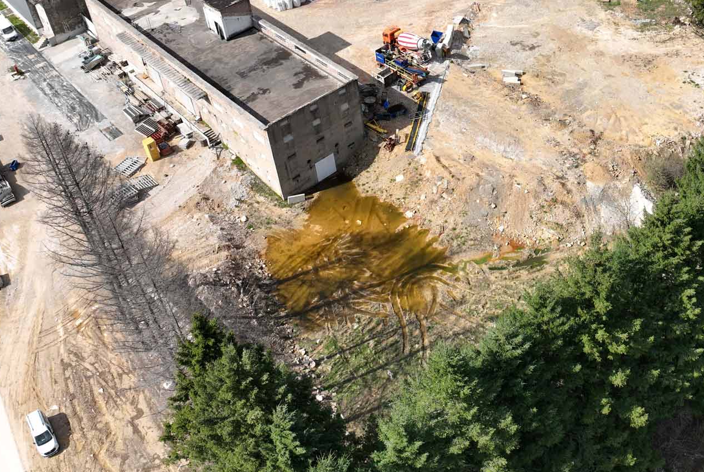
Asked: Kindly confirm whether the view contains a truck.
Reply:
Yes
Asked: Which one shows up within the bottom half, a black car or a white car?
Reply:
white car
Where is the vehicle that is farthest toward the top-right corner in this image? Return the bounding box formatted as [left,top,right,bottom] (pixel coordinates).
[381,25,444,63]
